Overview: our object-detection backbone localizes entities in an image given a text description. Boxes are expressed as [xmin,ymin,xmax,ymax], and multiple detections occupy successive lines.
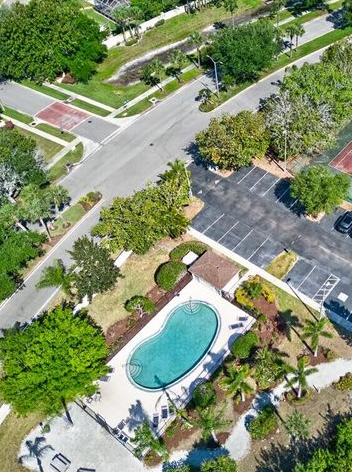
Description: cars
[336,211,352,234]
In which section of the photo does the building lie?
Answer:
center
